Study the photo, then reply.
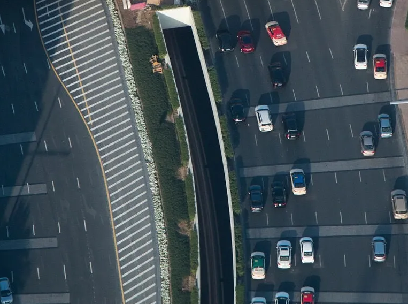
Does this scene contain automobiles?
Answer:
Yes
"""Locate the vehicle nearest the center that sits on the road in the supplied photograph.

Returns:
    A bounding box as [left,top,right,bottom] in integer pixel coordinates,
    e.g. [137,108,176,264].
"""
[230,99,245,123]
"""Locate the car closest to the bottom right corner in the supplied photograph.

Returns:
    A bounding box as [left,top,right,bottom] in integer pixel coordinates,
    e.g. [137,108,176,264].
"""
[371,237,387,264]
